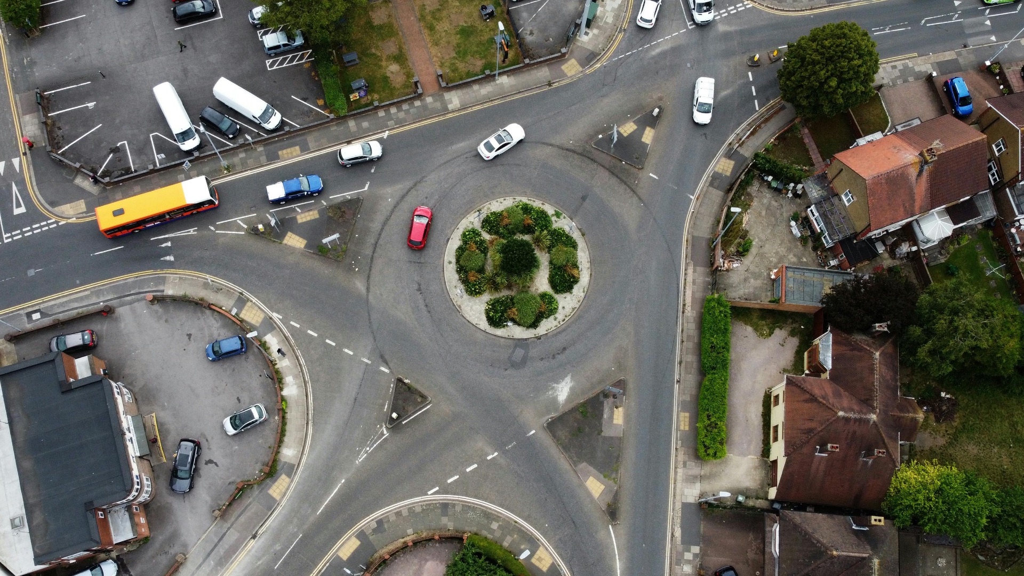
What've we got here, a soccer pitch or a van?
van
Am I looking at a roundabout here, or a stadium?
roundabout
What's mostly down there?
paved ground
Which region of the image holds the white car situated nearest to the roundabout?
top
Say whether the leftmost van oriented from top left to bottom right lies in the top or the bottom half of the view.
top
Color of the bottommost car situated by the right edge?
blue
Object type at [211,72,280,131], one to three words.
van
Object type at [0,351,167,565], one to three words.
building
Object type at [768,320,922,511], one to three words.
house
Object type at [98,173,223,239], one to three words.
bus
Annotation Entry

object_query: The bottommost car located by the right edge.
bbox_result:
[948,74,978,113]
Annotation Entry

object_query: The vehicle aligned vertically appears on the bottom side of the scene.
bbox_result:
[165,436,200,493]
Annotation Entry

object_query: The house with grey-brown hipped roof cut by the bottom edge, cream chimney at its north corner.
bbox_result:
[757,510,905,576]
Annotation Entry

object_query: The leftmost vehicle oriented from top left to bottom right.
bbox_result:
[145,79,197,150]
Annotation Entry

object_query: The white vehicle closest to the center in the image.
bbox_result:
[478,121,526,159]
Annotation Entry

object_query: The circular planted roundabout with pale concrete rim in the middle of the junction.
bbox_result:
[443,199,591,340]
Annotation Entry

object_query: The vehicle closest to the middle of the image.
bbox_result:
[407,205,432,248]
